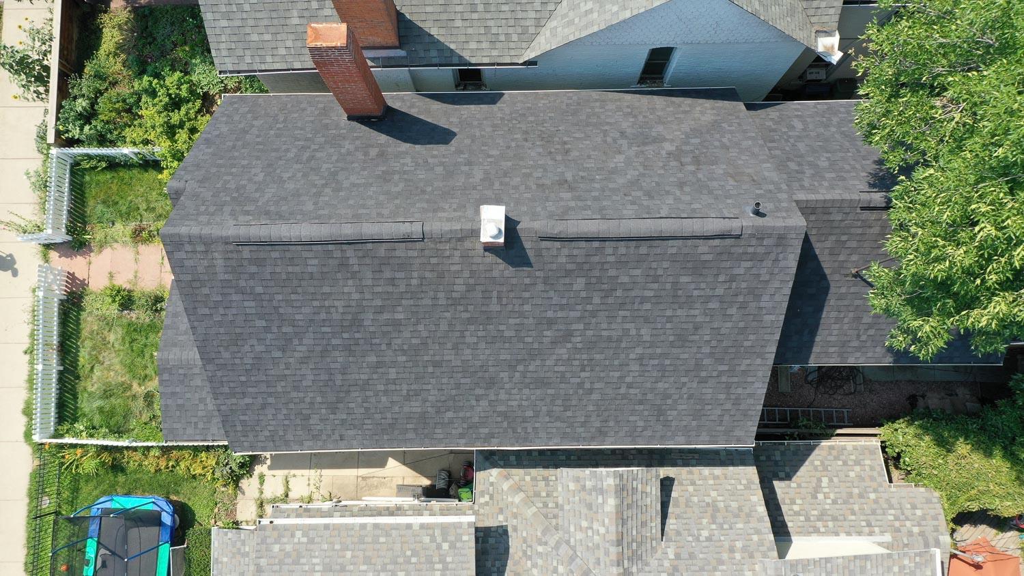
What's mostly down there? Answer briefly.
buildings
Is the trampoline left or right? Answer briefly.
left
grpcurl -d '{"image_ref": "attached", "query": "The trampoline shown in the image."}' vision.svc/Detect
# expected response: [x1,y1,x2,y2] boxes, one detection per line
[47,491,179,576]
